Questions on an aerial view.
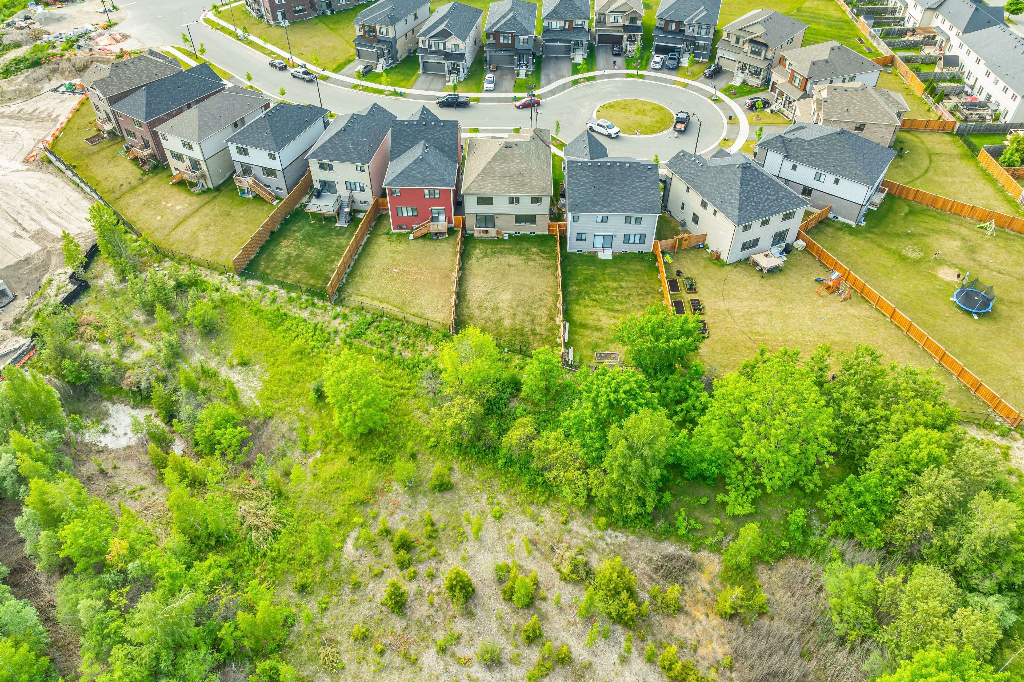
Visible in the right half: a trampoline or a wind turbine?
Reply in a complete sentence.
The one visible in the right half is a trampoline.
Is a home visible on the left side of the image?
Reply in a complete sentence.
Yes, a home appears on the left side of the image.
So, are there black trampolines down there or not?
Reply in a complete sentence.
No, there's no black trampoline here.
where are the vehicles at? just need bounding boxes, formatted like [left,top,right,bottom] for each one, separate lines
[611,41,623,54]
[286,65,317,81]
[746,94,773,108]
[667,50,680,65]
[265,58,290,69]
[586,120,622,139]
[652,52,665,66]
[704,62,724,76]
[436,94,469,109]
[514,96,542,109]
[483,73,495,87]
[675,109,691,129]
[353,62,377,75]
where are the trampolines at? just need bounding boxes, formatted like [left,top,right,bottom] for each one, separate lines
[957,278,997,313]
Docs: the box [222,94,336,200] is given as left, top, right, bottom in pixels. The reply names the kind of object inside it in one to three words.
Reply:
house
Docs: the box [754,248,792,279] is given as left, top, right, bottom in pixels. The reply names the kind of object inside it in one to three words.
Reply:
gazebo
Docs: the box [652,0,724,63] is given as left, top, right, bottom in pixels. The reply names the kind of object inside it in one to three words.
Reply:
house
